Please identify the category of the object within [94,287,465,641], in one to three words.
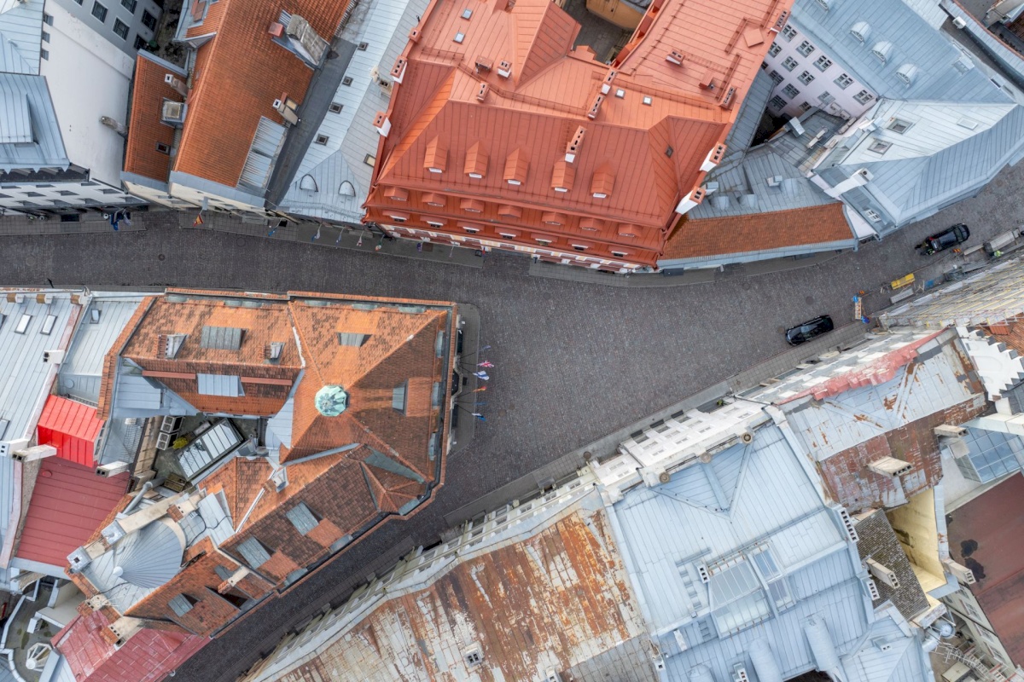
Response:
building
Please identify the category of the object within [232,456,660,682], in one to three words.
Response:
house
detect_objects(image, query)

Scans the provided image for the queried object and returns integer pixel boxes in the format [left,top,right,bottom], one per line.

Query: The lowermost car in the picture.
[785,313,836,347]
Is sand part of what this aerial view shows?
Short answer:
No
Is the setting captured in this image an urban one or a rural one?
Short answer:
urban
